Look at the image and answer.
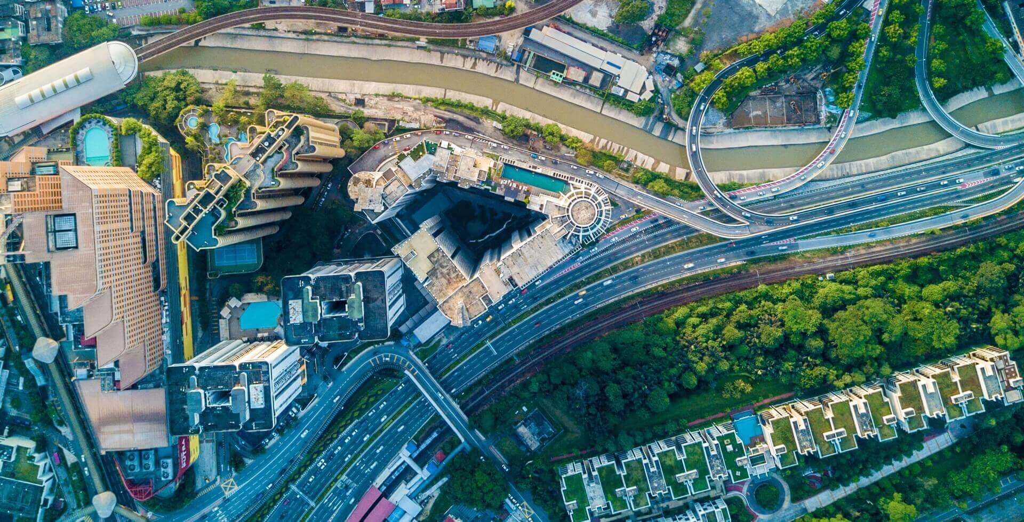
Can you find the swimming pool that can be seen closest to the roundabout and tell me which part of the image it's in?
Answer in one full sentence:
The swimming pool that can be seen closest to the roundabout is located in the bottom right region of the scene.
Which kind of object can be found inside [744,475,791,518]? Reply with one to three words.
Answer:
roundabout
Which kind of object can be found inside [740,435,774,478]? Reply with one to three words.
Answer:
building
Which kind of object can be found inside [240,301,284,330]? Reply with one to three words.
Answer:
swimming pool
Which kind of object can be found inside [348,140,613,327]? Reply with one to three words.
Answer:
building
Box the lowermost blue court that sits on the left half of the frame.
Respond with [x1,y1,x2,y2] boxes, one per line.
[208,238,263,278]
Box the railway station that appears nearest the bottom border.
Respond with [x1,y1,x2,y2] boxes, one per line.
[344,441,469,522]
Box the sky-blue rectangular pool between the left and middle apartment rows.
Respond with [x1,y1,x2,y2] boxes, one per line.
[731,409,762,445]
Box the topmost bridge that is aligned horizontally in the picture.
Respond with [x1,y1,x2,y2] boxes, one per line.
[134,0,585,62]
